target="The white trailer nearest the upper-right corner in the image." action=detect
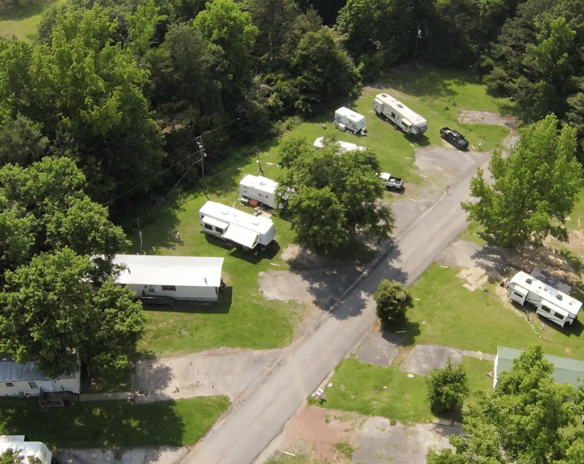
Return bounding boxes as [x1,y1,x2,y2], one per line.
[370,94,428,139]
